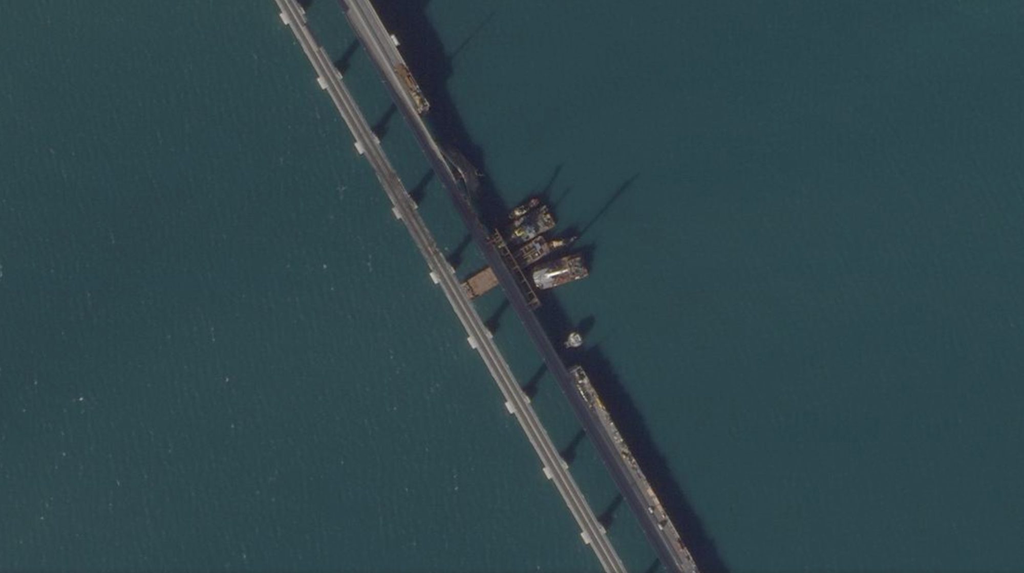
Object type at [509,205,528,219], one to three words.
boat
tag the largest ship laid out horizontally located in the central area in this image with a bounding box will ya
[534,257,587,288]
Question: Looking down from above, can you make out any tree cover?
No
